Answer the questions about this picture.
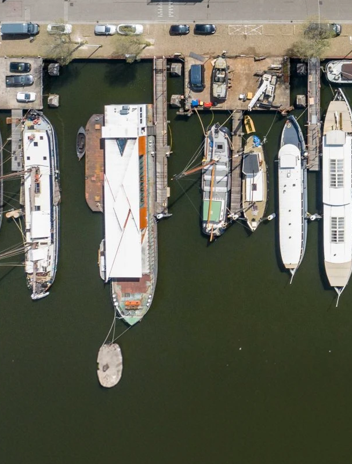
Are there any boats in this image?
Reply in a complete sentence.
Yes, the image includes a boat.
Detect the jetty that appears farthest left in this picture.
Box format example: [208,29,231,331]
[12,108,25,170]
